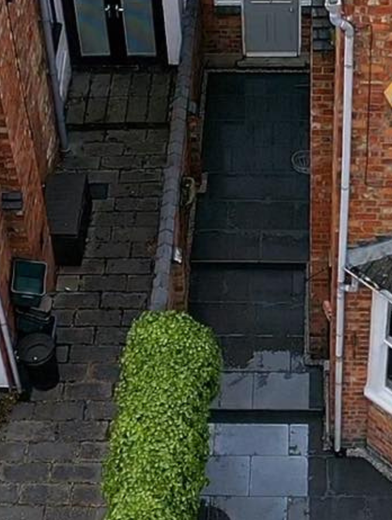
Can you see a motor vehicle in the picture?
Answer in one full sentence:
No, the photo shows no motor vehicle.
